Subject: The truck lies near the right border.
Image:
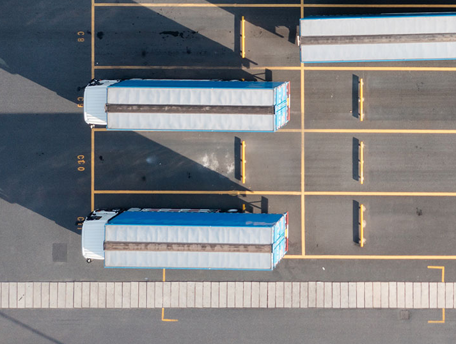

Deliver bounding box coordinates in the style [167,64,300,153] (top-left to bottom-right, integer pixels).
[300,13,456,62]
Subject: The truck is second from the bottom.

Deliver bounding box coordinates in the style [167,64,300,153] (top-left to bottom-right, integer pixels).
[76,78,292,132]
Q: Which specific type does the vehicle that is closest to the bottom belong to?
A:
truck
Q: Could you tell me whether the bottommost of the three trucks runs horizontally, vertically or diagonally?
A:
horizontally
